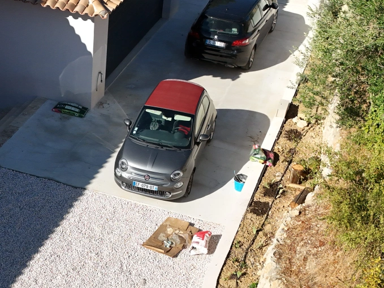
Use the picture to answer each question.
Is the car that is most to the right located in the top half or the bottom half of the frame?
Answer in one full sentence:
Seen from above, the car that is most to the right lies in the top half of the view.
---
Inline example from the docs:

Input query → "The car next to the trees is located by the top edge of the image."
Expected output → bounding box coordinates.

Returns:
[184,0,283,71]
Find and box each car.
[112,79,222,202]
[184,0,283,71]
